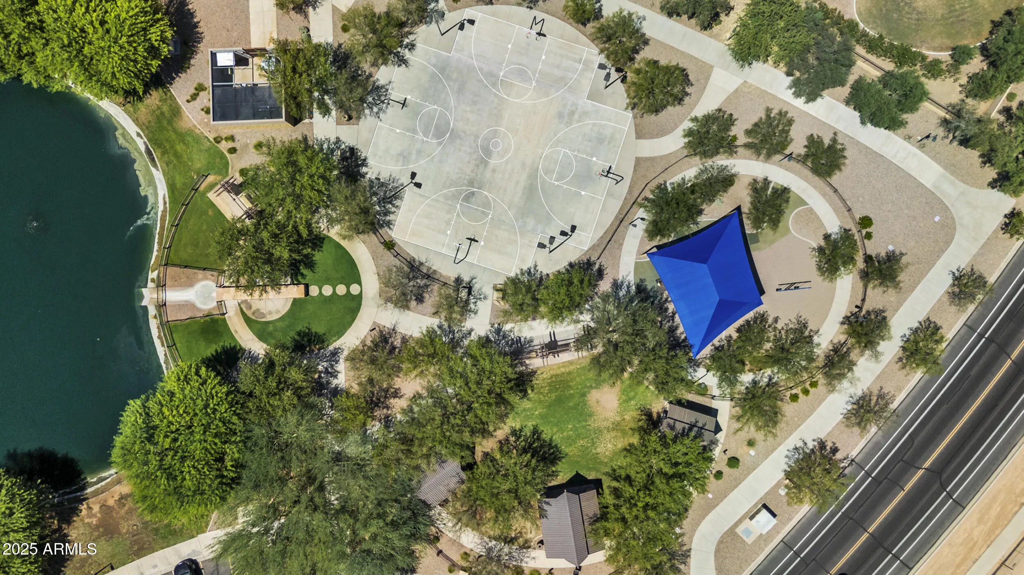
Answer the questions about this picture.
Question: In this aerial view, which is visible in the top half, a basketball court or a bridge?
basketball court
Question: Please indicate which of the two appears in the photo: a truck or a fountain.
fountain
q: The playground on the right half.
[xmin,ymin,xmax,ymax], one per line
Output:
[634,175,837,377]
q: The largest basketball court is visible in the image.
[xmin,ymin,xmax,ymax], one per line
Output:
[357,4,635,282]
